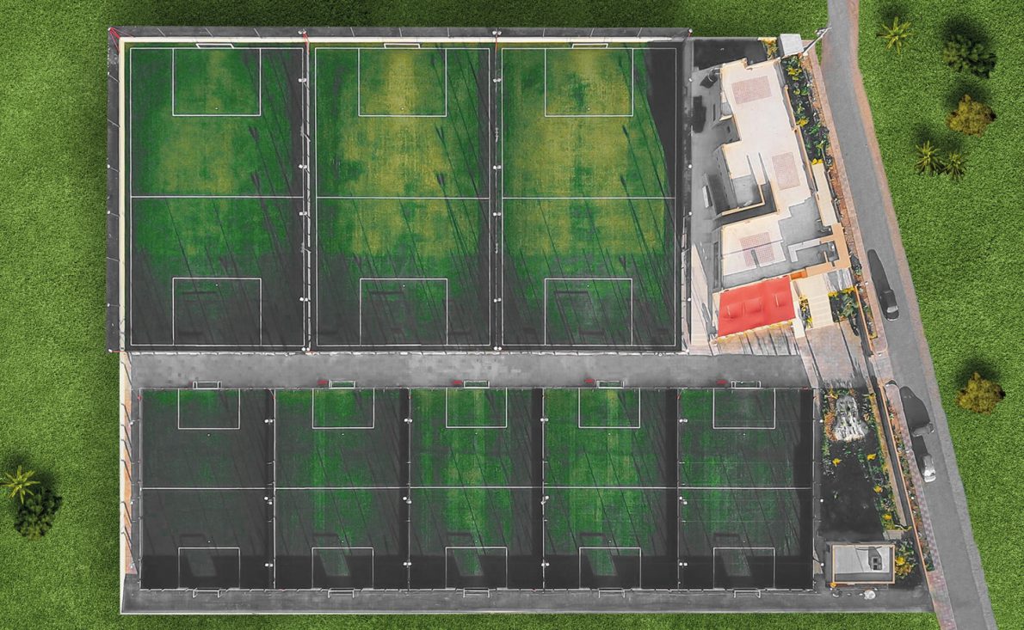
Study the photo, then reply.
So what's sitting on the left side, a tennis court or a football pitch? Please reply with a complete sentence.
What appears on the left side is a football pitch.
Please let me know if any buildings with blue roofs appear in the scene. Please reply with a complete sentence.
No, I can see no building with a blue roof in this picture.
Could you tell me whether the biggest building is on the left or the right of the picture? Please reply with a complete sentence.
The biggest building appears in the right half of the scene.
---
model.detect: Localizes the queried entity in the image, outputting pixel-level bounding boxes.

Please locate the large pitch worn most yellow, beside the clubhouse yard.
[497,43,683,348]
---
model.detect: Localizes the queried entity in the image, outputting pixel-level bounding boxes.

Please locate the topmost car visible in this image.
[879,287,900,321]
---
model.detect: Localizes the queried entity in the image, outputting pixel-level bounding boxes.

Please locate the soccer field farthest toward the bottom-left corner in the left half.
[141,389,274,590]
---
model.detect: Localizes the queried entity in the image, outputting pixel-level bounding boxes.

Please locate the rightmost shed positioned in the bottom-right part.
[825,540,895,584]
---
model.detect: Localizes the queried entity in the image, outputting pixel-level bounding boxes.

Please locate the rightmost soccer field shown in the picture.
[679,389,815,590]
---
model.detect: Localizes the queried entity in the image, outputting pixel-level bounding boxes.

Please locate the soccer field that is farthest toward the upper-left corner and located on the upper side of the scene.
[126,43,309,348]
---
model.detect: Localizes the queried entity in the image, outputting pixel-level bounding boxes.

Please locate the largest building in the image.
[706,58,852,289]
